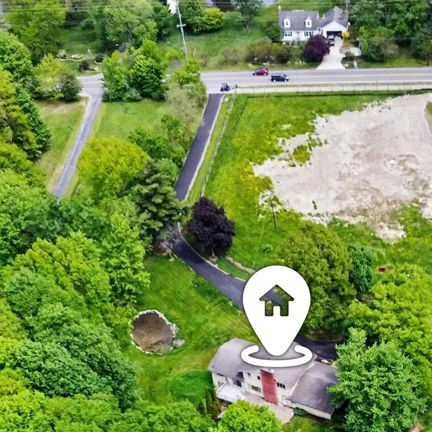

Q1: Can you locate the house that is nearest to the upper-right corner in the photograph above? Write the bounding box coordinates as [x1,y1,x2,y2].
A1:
[279,6,351,40]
